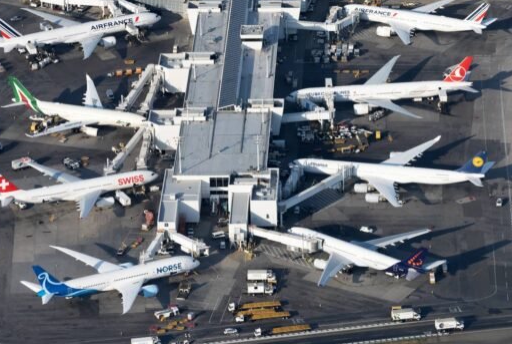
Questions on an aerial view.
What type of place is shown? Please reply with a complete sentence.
It's an airport.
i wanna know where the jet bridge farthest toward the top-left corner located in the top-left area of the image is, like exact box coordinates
[66,0,124,20]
